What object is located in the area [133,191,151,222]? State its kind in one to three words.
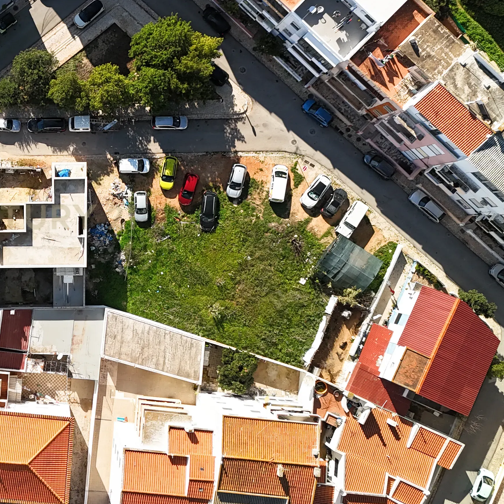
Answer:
car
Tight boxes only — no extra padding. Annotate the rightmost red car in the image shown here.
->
[177,171,200,207]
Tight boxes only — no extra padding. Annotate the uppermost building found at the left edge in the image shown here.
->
[0,162,87,309]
